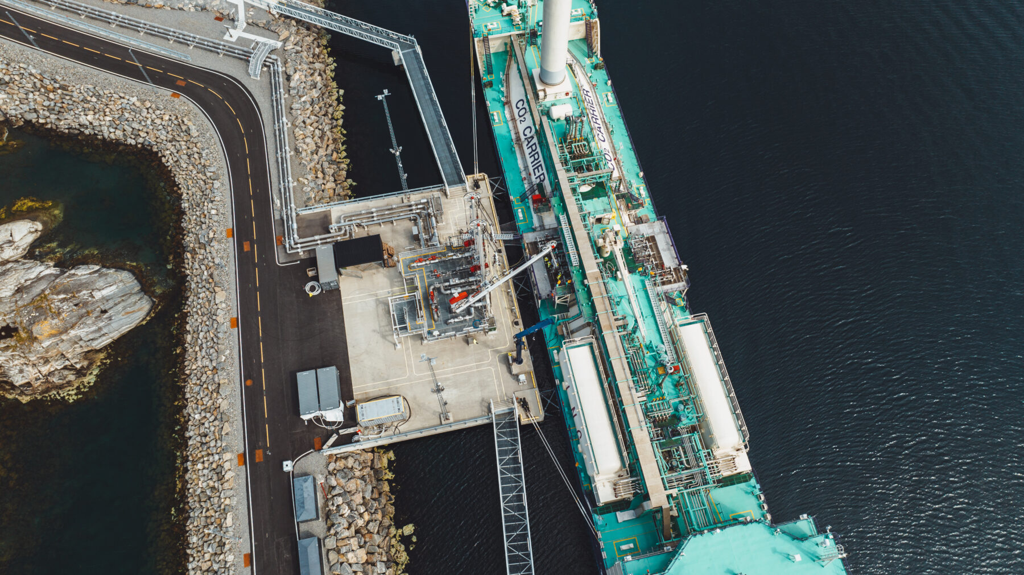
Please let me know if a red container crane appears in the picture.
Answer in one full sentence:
No, I can't see a single red container crane in this photo.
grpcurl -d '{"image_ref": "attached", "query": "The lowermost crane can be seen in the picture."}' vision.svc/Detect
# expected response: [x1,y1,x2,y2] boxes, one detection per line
[507,321,558,377]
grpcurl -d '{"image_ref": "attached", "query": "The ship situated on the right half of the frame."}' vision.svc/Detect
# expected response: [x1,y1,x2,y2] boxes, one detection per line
[469,0,852,575]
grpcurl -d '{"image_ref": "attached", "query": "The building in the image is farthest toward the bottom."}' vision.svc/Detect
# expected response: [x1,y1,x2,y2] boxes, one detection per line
[298,537,332,575]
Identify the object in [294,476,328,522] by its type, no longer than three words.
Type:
building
